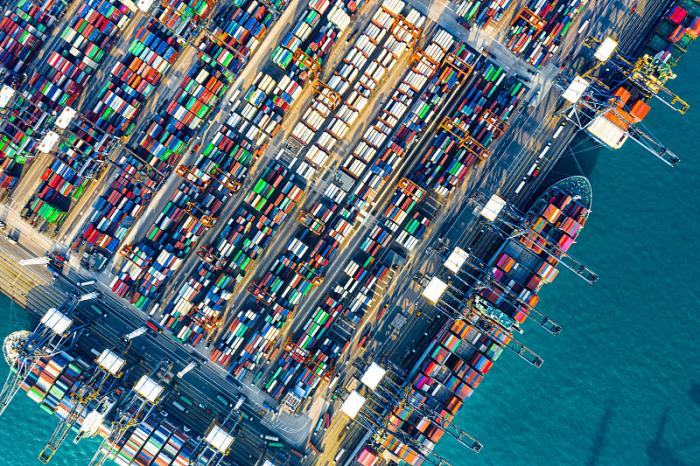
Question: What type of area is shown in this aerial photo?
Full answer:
The picture captures a port.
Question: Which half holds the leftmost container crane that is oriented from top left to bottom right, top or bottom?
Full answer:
It is in the top half that the leftmost container crane that is oriented from top left to bottom right appears.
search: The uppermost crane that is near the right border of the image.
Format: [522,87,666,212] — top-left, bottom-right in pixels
[567,26,693,111]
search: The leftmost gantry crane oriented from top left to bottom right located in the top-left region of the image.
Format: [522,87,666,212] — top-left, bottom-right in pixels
[0,79,58,135]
